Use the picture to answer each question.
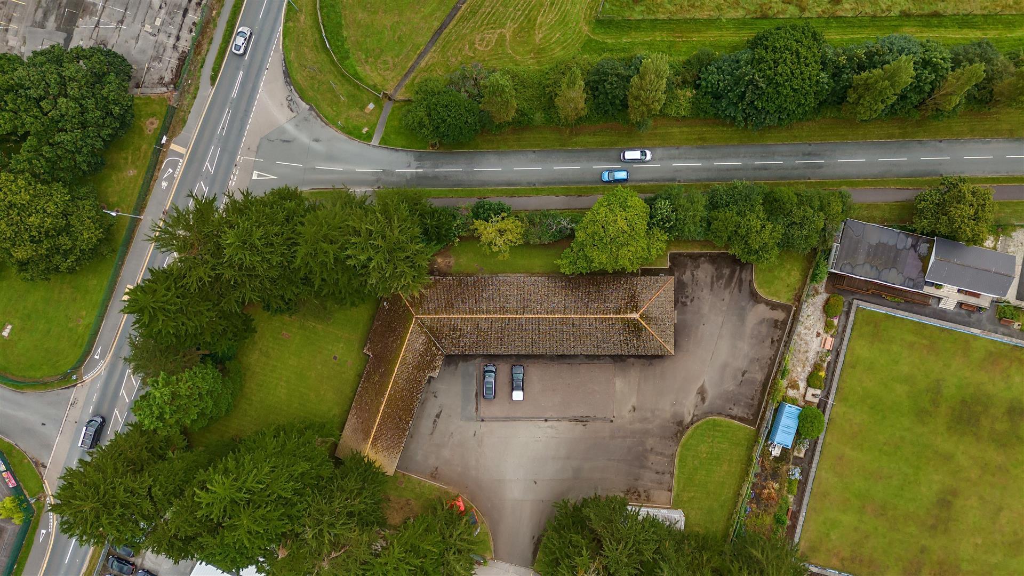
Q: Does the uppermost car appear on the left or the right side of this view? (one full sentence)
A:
It is on the left.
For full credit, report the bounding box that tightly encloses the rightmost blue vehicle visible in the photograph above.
[601,169,629,184]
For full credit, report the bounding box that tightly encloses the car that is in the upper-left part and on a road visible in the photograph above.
[233,26,254,58]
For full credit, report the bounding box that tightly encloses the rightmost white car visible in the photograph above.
[621,149,651,163]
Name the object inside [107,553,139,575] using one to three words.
car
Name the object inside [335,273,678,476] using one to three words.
building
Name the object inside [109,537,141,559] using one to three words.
car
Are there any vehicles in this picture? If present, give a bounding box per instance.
[109,537,141,559]
[621,149,651,163]
[510,364,525,400]
[233,26,254,58]
[482,363,497,399]
[75,414,108,451]
[601,169,629,184]
[107,553,139,575]
[136,564,166,576]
